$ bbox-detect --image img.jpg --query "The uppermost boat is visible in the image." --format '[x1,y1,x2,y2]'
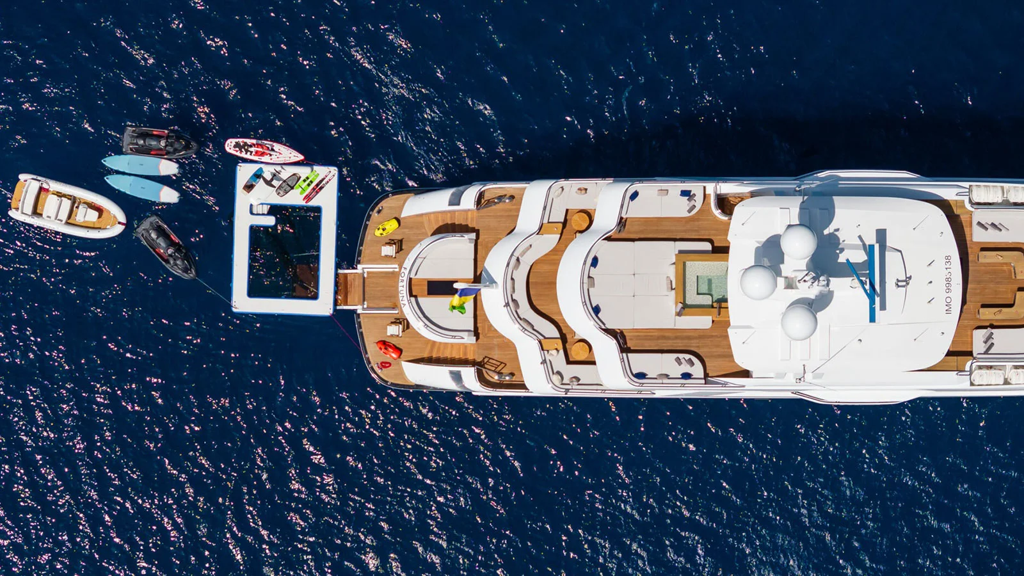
[121,127,198,158]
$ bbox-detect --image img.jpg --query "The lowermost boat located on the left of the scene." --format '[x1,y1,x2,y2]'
[136,215,197,280]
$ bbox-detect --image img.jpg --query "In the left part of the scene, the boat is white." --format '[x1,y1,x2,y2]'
[6,171,125,238]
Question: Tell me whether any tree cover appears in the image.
No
